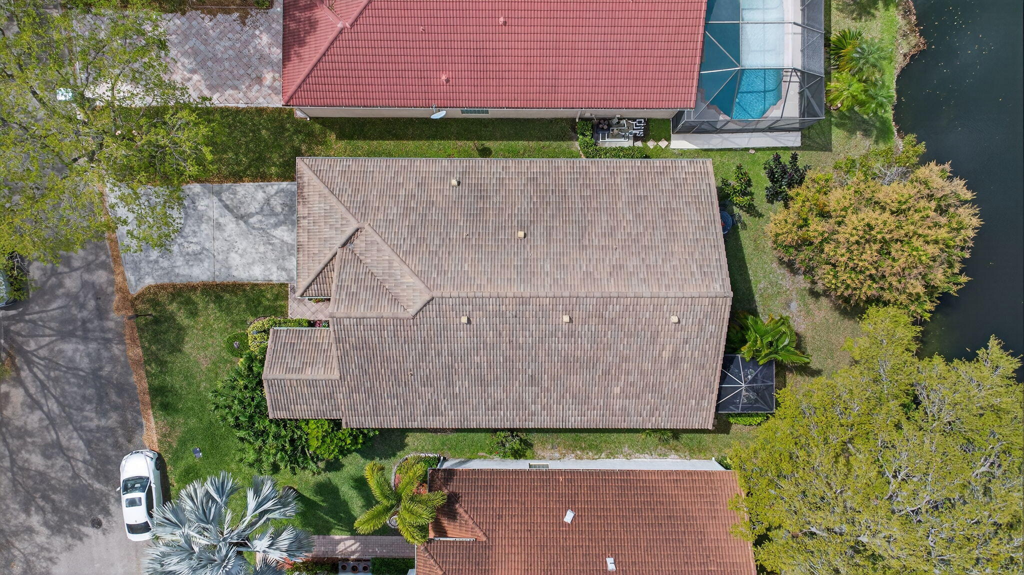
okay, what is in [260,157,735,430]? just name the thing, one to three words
house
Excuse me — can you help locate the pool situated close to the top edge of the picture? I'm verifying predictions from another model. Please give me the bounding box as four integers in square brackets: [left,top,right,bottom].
[697,0,791,125]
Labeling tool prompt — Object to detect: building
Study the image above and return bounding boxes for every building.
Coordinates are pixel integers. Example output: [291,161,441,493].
[414,455,754,575]
[280,0,708,124]
[260,157,735,430]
